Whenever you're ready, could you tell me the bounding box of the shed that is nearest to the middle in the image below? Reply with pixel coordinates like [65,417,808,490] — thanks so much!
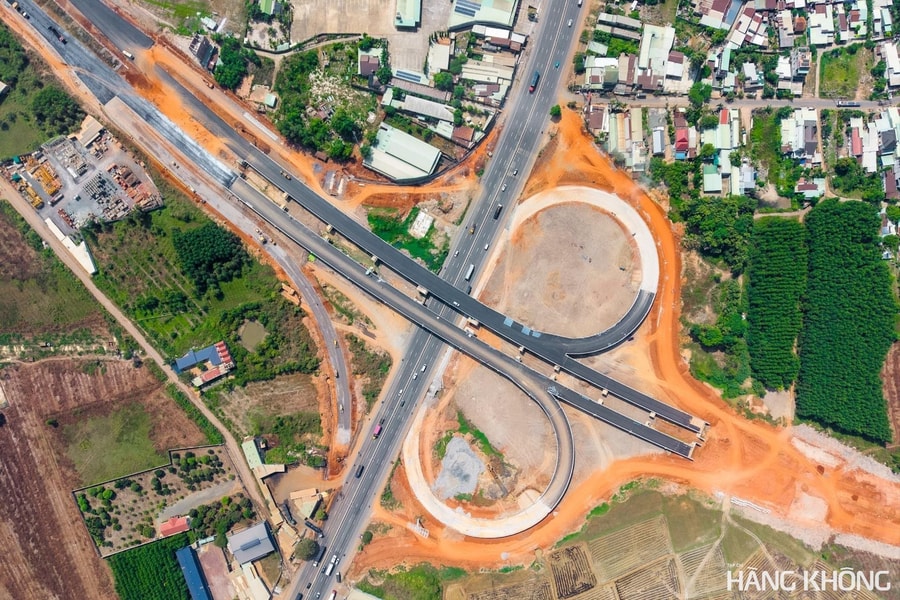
[409,212,433,239]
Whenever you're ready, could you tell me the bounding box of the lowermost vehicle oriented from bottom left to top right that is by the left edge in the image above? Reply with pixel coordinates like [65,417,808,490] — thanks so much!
[45,192,65,206]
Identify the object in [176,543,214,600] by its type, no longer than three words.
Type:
shed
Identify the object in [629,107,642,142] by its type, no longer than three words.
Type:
house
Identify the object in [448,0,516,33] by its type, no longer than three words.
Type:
building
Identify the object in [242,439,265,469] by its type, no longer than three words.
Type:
house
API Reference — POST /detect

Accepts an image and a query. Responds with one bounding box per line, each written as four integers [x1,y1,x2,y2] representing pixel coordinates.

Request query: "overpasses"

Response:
[228,173,702,464]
